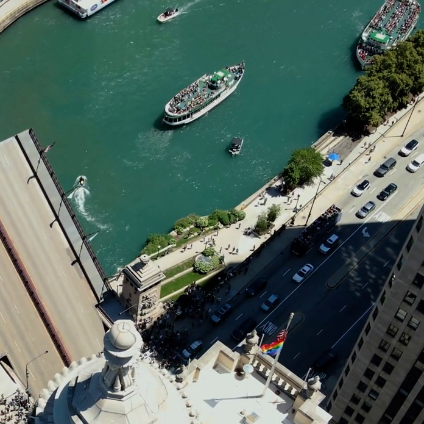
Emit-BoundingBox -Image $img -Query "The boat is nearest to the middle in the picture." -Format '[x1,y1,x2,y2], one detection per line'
[226,131,245,158]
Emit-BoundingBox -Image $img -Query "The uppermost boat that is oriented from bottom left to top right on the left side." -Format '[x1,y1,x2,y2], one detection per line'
[158,6,181,23]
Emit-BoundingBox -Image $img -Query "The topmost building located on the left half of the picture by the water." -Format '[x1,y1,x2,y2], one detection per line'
[117,255,168,328]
